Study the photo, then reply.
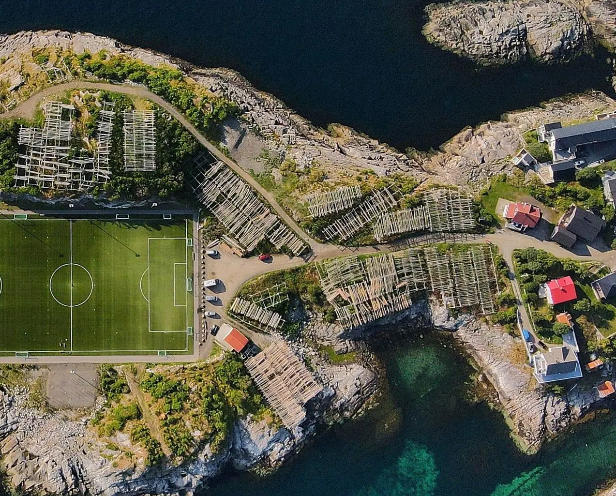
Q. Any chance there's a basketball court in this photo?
No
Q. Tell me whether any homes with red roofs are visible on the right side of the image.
Yes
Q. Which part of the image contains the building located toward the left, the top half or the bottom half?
bottom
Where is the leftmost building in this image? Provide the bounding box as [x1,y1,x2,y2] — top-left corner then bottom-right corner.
[213,323,252,353]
